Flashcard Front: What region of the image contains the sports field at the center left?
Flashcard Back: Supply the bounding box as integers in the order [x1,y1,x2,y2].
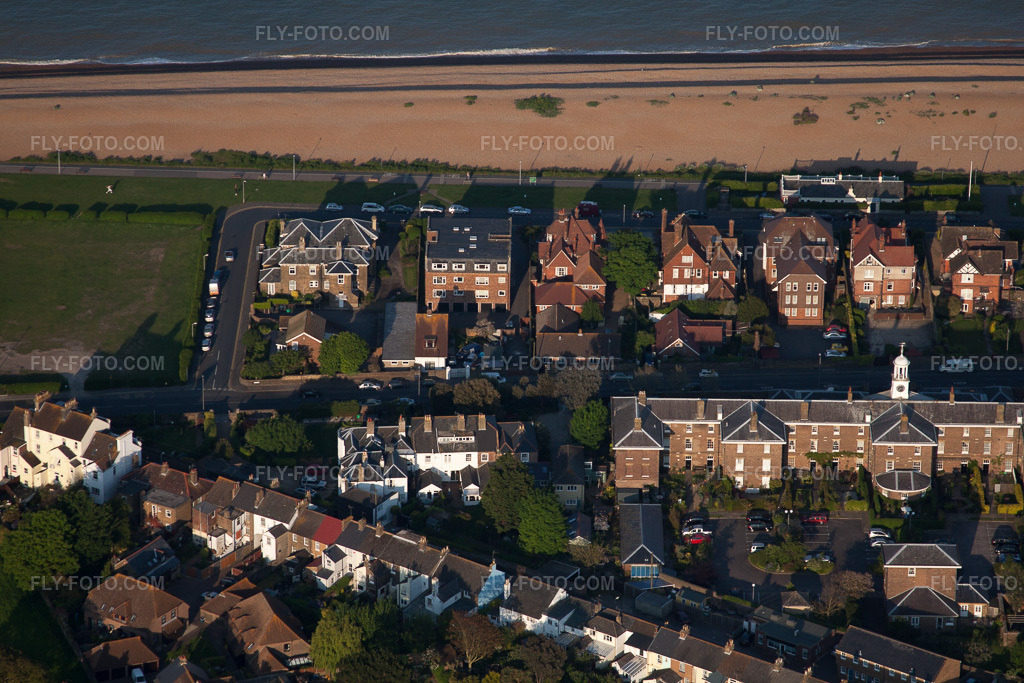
[0,225,201,381]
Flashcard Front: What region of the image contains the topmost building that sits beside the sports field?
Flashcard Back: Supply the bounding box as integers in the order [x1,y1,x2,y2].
[258,214,377,306]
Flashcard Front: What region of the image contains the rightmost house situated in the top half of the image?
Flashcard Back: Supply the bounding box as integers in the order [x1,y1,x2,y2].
[935,225,1019,317]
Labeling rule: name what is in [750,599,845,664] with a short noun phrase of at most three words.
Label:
building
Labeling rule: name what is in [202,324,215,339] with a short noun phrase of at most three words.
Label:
vehicle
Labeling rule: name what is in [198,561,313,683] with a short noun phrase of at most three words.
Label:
house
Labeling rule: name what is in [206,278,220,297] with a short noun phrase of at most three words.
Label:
vehicle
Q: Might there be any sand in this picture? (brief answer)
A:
Yes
